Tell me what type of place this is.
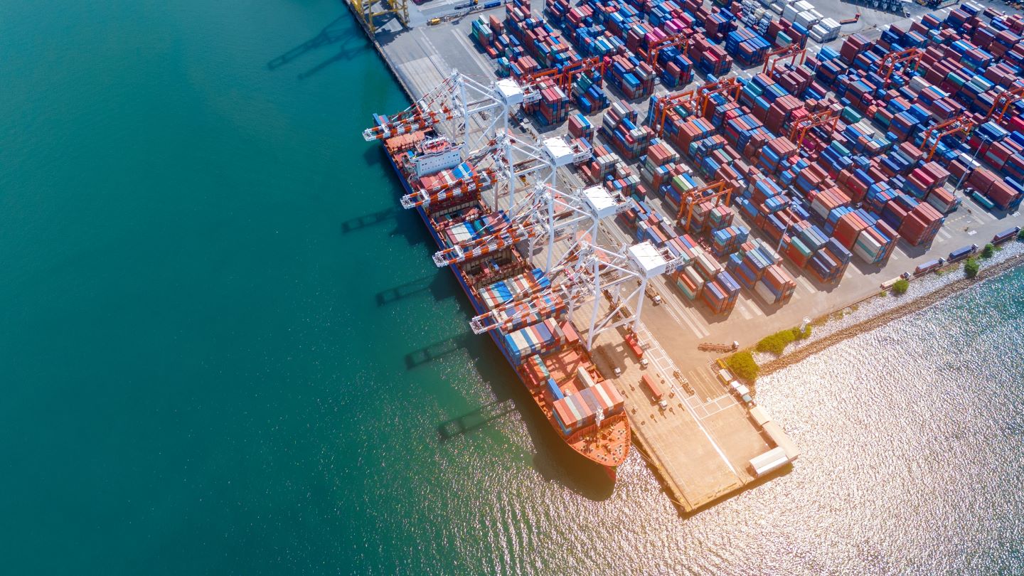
port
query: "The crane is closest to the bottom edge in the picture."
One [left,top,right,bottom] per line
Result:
[467,237,682,356]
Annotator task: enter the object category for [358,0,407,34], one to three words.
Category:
container crane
